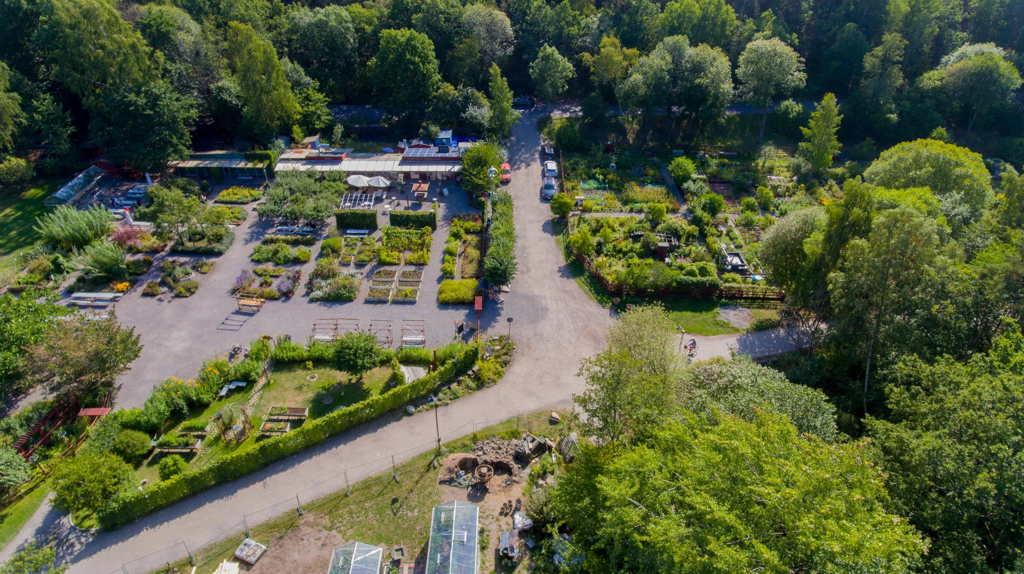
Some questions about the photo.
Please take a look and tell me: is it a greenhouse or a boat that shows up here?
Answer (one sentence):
Visible in the photo is a greenhouse.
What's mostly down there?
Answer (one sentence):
The bulk of the photo consists of trees.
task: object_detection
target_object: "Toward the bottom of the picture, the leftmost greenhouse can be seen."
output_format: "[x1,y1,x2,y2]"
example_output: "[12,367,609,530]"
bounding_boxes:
[325,540,385,574]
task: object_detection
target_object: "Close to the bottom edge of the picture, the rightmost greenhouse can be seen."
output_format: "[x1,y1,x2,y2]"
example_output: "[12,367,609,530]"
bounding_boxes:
[422,500,482,574]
